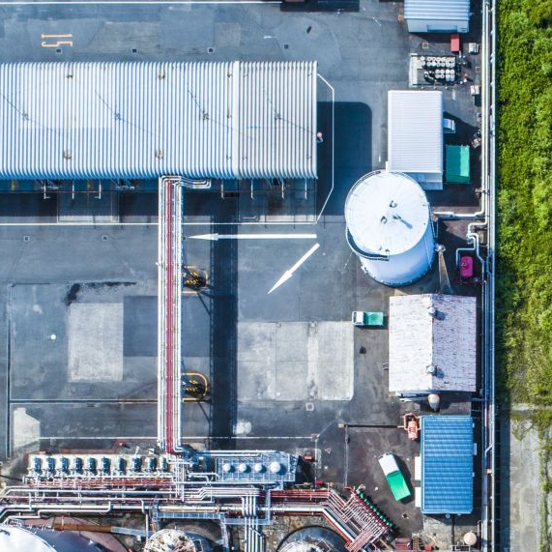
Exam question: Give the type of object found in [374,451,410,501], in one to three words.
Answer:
truck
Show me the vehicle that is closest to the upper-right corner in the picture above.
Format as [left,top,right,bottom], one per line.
[443,114,465,136]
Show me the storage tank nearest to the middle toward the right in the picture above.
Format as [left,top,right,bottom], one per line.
[345,167,447,289]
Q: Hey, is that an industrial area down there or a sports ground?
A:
industrial area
